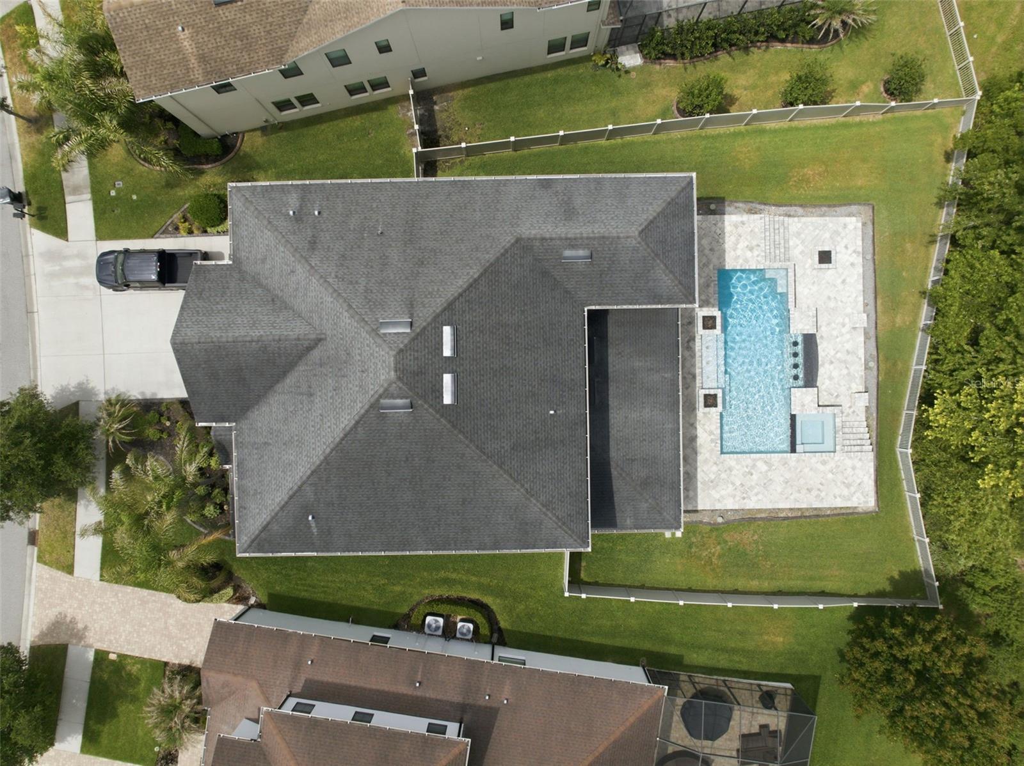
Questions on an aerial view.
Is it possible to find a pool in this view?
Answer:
Yes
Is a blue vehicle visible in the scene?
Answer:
No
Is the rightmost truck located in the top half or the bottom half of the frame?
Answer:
top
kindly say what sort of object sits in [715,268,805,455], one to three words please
swimming pool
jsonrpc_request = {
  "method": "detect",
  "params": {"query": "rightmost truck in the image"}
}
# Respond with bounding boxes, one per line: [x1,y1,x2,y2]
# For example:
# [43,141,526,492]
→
[95,244,213,292]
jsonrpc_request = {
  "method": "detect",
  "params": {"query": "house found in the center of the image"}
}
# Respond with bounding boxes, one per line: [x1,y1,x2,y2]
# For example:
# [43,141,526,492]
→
[171,173,697,556]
